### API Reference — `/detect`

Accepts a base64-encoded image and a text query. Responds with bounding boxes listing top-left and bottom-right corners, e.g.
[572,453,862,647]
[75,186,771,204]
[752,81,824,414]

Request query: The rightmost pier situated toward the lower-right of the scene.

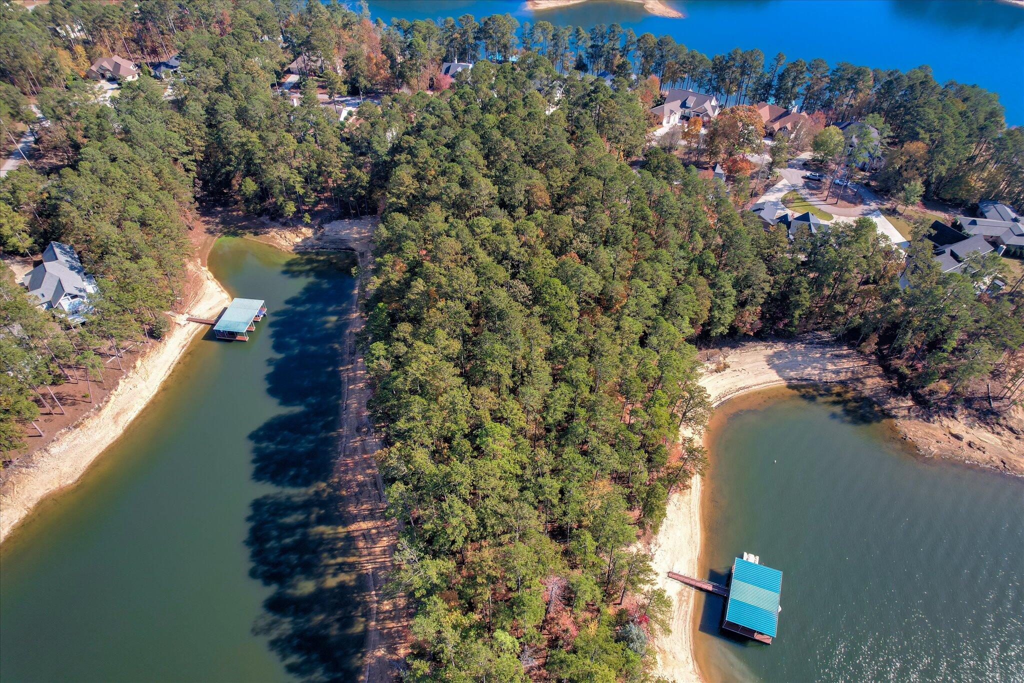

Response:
[718,556,783,651]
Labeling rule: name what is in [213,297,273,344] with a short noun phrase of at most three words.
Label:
pier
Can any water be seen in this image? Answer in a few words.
Yes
